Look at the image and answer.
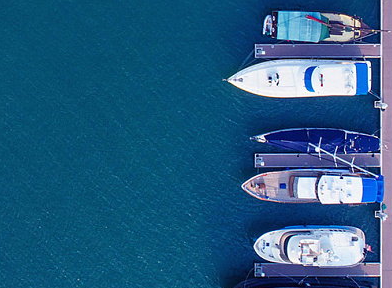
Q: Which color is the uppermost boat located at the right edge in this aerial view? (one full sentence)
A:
In this view, the uppermost boat located at the right edge is blue.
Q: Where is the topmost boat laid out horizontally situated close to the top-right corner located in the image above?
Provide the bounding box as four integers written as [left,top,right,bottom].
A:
[267,10,390,44]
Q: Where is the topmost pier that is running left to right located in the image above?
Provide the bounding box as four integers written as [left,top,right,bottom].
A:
[254,43,380,58]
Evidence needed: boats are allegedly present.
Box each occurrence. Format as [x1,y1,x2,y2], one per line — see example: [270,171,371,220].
[252,222,375,268]
[231,276,376,288]
[240,165,383,205]
[250,125,379,181]
[225,57,372,99]
[267,10,390,44]
[262,14,270,38]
